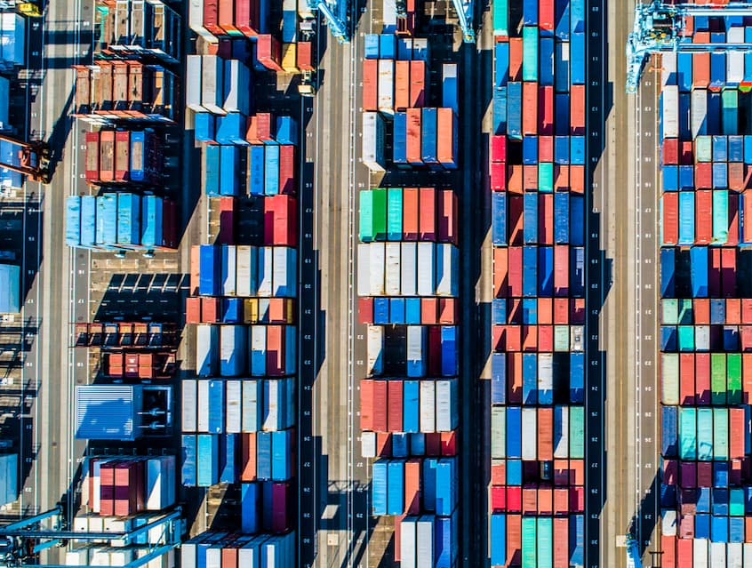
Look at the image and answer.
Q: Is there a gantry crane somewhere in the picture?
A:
Yes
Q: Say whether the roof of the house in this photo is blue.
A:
Yes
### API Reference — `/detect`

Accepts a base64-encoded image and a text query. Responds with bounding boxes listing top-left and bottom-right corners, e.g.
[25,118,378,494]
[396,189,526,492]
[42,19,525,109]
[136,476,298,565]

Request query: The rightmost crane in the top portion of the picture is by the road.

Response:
[623,0,752,99]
